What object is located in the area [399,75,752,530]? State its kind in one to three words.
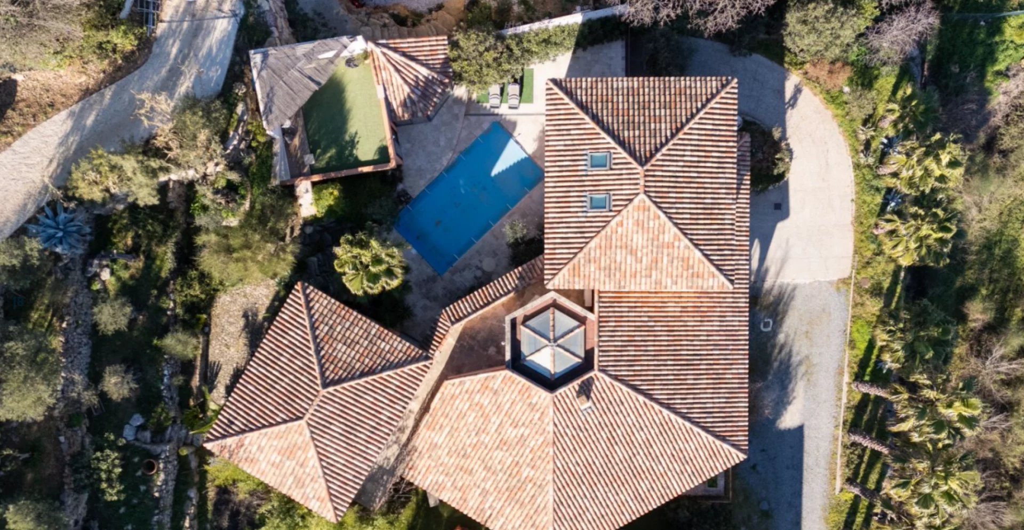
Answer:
house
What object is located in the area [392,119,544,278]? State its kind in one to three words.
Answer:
swimming pool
